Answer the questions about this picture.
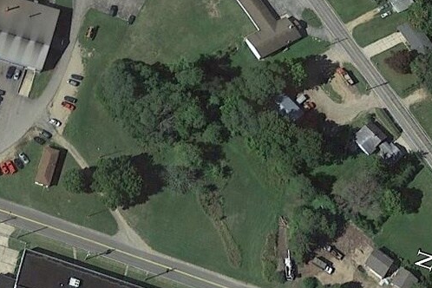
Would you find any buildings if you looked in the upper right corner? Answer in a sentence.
Yes, there is a building in the upper right corner.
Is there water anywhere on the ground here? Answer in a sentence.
No, no water is visible.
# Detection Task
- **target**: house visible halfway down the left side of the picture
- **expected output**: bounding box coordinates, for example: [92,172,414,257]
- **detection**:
[36,147,60,187]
